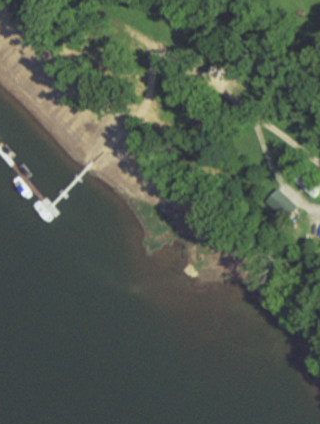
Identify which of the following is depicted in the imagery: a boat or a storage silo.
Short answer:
boat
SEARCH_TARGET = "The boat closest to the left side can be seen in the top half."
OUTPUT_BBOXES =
[0,140,16,158]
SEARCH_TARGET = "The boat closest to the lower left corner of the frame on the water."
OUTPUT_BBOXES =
[32,201,54,224]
